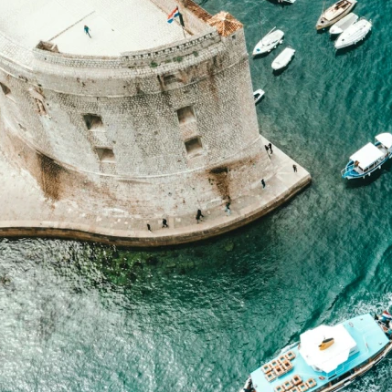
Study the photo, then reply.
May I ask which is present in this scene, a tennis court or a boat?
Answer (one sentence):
Visible in the photo is a boat.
